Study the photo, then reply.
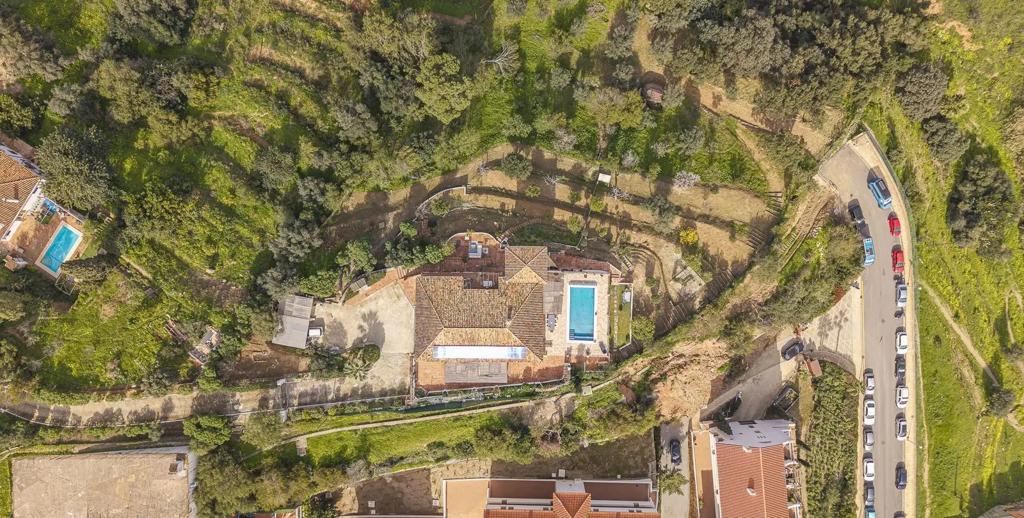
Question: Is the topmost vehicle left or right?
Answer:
right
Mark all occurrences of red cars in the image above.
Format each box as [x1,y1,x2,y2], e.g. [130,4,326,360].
[892,250,904,272]
[888,216,900,236]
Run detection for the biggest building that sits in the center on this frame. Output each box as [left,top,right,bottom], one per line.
[414,245,548,363]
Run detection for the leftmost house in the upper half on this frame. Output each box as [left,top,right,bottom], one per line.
[0,148,44,250]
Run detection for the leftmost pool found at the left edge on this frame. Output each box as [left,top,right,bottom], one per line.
[37,222,84,275]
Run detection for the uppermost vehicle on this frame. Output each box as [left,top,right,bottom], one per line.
[869,180,889,207]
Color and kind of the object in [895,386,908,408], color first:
white vehicle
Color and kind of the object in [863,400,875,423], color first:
white vehicle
